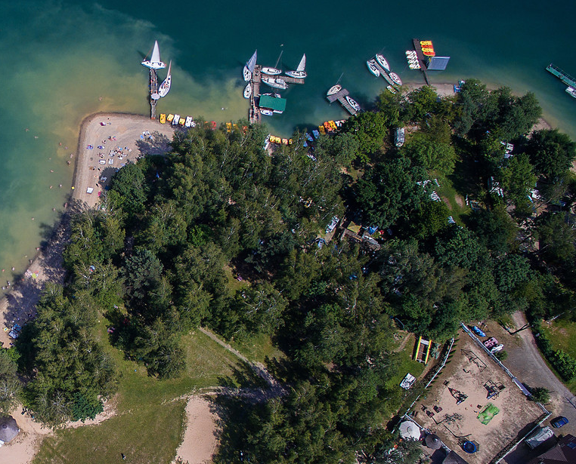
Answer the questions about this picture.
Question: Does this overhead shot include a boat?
Yes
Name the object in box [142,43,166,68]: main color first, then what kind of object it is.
white boat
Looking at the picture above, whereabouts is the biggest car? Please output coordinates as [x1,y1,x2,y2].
[551,416,570,429]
